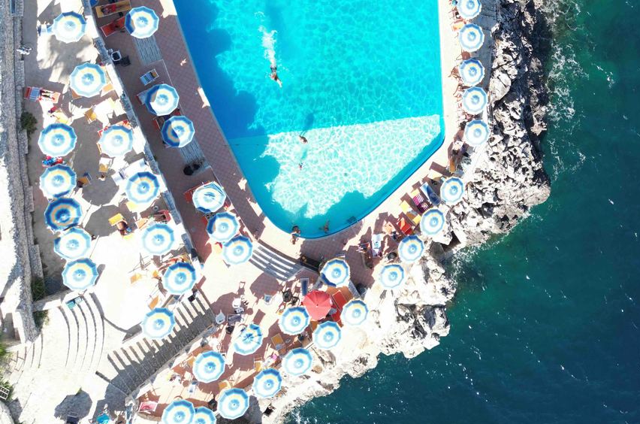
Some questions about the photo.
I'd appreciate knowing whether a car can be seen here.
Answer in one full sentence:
No, there appears to be no car in this shot.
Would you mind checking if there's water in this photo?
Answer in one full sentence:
Yes, water can be seen from above here.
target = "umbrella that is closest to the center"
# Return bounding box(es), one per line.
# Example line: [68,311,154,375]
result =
[319,256,346,285]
